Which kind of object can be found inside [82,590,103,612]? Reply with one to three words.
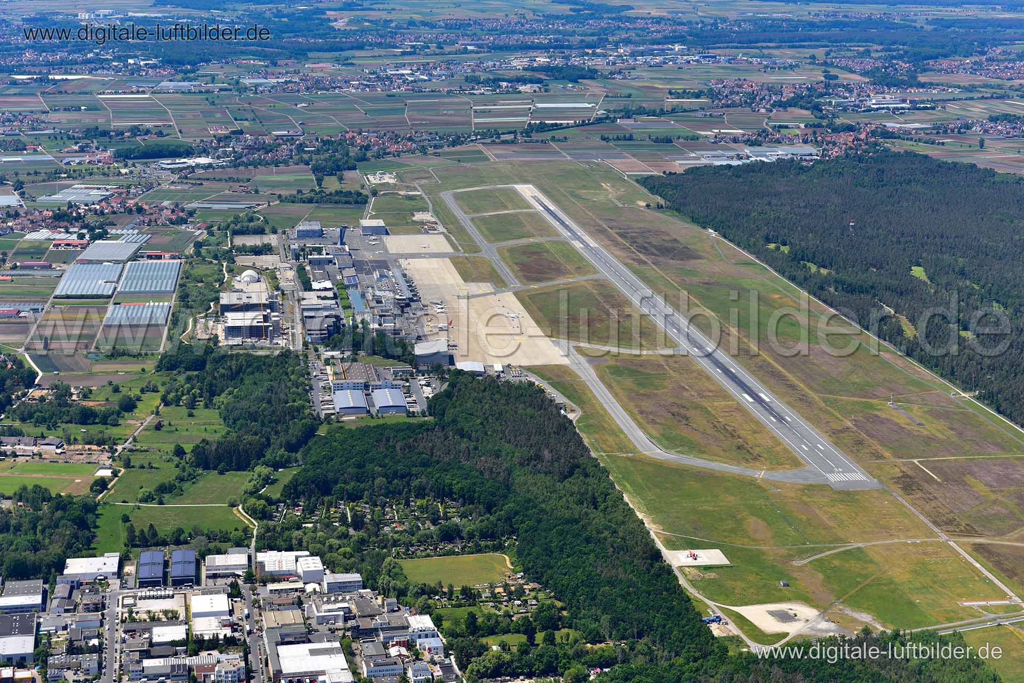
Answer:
house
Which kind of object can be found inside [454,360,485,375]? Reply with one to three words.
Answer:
hangar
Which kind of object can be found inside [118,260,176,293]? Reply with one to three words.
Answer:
greenhouse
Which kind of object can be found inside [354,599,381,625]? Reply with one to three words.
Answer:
building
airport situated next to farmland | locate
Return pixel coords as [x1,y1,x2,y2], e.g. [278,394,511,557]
[319,159,1024,683]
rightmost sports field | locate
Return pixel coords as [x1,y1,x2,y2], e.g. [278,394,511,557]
[398,555,511,590]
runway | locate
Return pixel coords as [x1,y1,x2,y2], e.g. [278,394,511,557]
[510,184,884,491]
